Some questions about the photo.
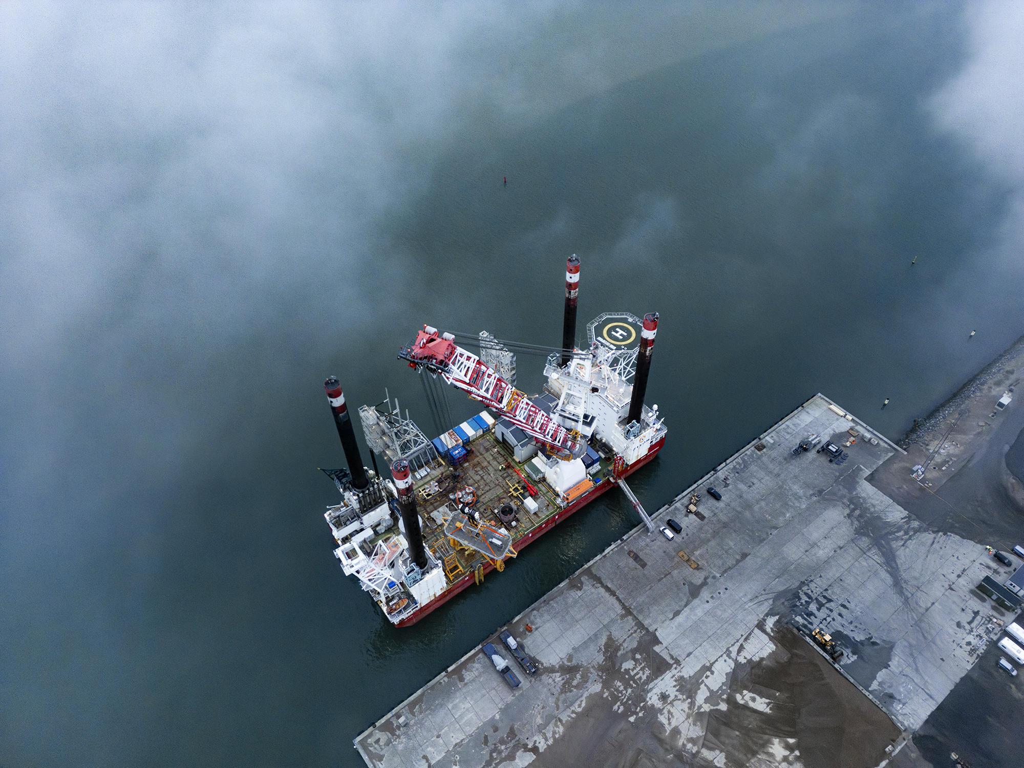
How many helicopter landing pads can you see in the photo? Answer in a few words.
1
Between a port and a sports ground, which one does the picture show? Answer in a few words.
port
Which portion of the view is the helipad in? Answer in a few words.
center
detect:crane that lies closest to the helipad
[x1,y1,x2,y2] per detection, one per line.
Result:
[398,317,607,519]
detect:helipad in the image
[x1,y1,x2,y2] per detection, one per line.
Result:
[587,311,645,379]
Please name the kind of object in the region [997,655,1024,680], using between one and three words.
vehicle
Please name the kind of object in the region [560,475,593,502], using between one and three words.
boat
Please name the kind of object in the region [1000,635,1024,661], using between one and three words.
camper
